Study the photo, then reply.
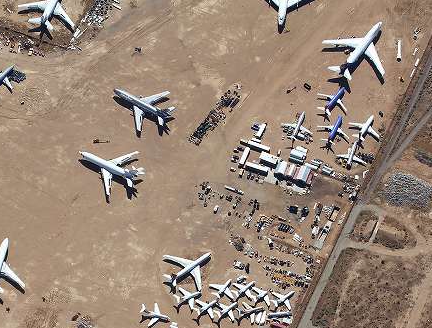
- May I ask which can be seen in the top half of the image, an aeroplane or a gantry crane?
aeroplane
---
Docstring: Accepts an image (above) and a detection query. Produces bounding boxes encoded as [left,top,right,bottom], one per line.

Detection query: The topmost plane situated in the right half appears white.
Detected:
[277,0,297,26]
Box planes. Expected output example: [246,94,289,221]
[336,142,366,169]
[273,292,295,311]
[282,112,312,140]
[195,300,218,321]
[114,90,178,134]
[234,283,255,301]
[277,0,297,26]
[239,304,263,324]
[0,239,25,292]
[80,148,145,199]
[349,116,380,144]
[177,288,202,312]
[142,301,170,326]
[323,23,386,81]
[216,303,238,322]
[319,88,348,116]
[166,252,212,292]
[317,116,350,148]
[0,66,15,91]
[210,280,234,301]
[250,288,271,307]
